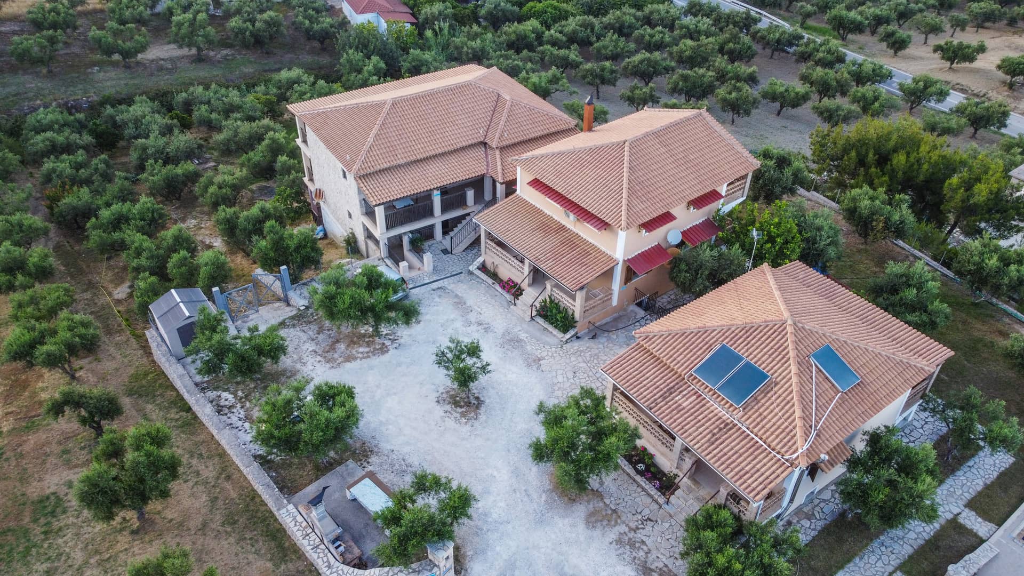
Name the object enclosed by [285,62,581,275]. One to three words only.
house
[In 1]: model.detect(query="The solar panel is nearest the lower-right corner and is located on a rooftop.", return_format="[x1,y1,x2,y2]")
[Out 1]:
[810,345,862,395]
